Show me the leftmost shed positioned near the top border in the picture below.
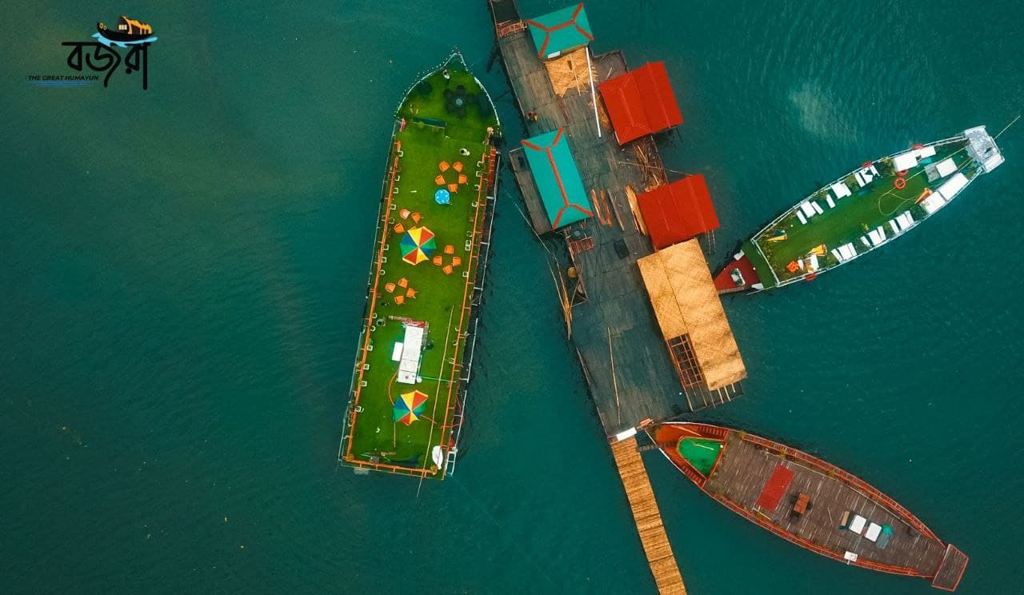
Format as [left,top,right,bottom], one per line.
[525,2,595,61]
